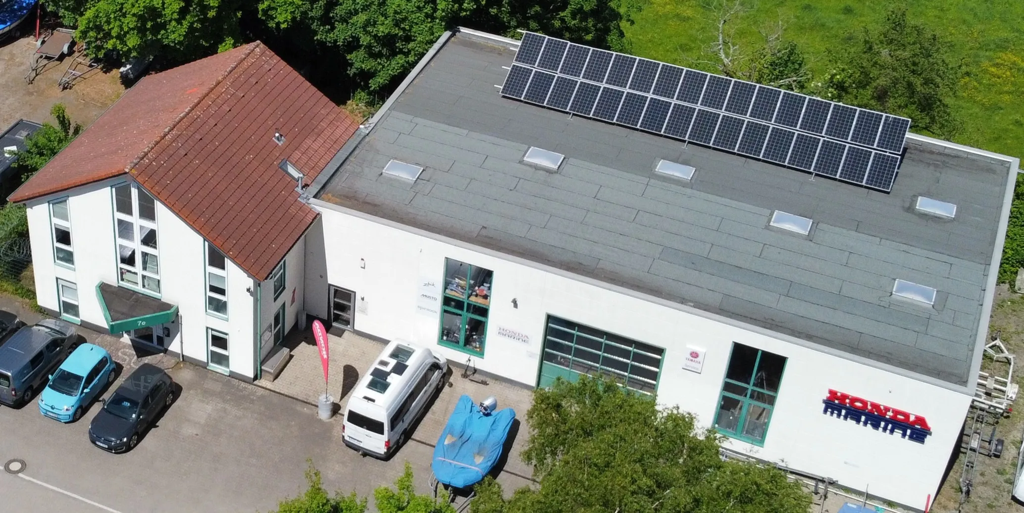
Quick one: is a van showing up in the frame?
Yes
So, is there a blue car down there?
Yes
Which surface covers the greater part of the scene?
buildings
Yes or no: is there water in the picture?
No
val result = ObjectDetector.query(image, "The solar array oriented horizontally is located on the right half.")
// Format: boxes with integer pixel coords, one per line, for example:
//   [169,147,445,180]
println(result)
[489,34,910,196]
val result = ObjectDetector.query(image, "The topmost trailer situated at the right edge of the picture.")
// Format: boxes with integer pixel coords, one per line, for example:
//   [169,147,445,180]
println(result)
[966,326,1024,428]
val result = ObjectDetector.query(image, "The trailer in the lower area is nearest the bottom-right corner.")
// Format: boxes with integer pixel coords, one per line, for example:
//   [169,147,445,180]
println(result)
[951,401,1011,499]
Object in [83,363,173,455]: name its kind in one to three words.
car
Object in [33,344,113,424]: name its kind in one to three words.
car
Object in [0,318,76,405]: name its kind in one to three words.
van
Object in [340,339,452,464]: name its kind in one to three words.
van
